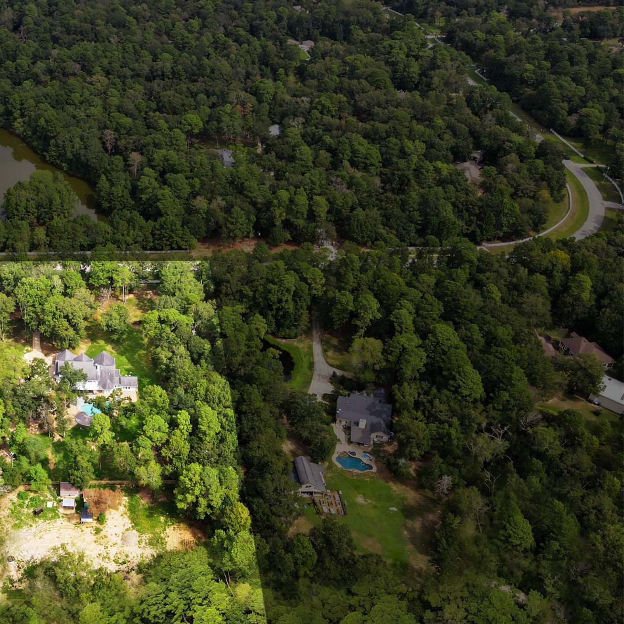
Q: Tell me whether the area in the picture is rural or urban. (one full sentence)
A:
From above, the setting appears rural.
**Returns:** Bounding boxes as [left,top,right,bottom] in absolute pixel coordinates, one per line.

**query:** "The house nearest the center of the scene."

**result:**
[333,382,394,447]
